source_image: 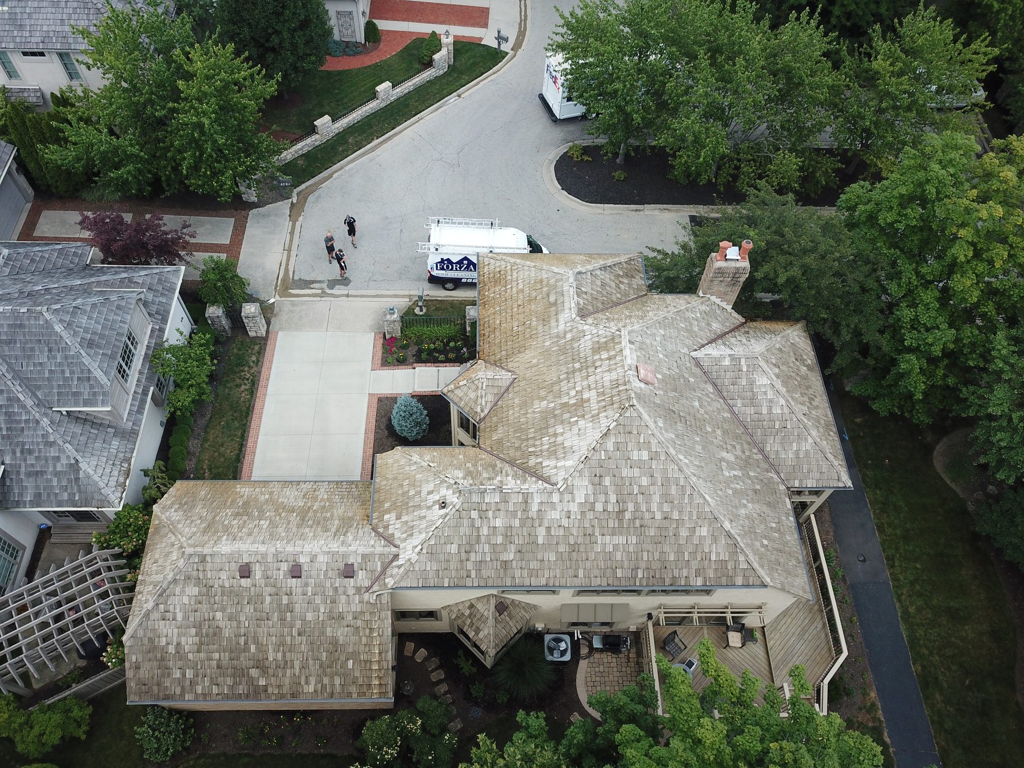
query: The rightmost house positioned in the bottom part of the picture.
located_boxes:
[122,237,857,711]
